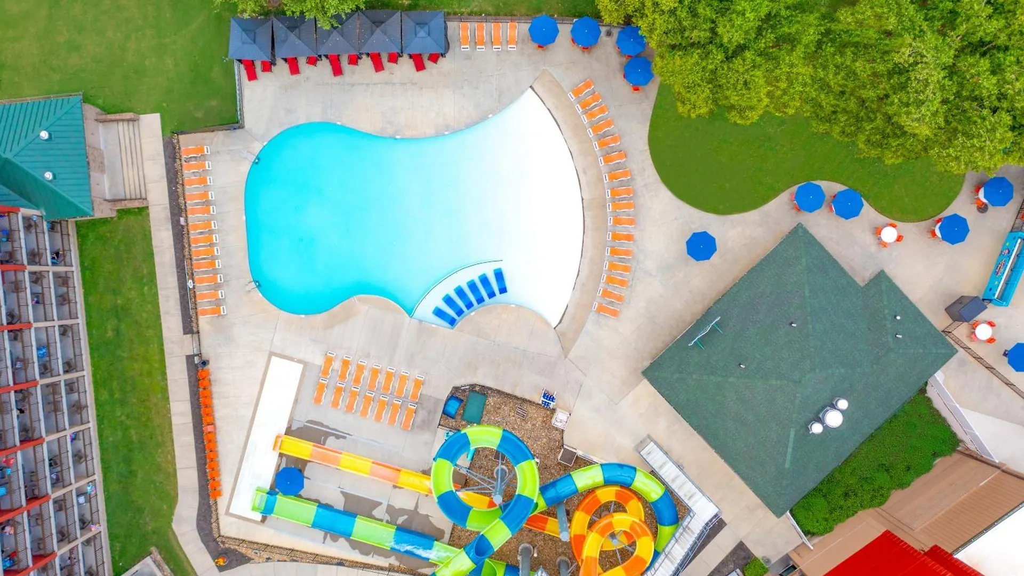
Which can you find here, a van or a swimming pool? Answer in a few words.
swimming pool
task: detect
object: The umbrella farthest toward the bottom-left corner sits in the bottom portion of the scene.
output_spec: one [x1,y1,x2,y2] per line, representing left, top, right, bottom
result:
[277,465,307,494]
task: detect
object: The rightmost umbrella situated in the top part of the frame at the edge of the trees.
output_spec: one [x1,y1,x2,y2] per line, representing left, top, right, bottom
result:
[974,177,1010,207]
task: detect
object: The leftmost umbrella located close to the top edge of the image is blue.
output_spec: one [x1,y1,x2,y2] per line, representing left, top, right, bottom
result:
[529,18,559,48]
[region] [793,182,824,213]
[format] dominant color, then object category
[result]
blue umbrella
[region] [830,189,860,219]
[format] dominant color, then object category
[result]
blue umbrella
